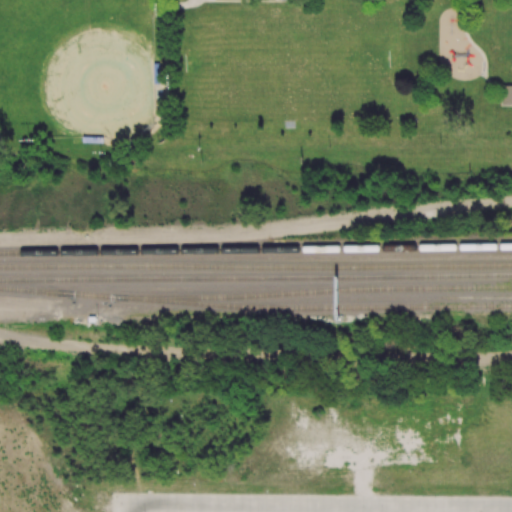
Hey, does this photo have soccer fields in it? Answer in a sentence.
Yes, the image includes a soccer field.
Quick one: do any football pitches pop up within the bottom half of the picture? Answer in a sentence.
No, there's no football pitch to be seen within the bottom half of the picture.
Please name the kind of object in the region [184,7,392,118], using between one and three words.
soccer field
